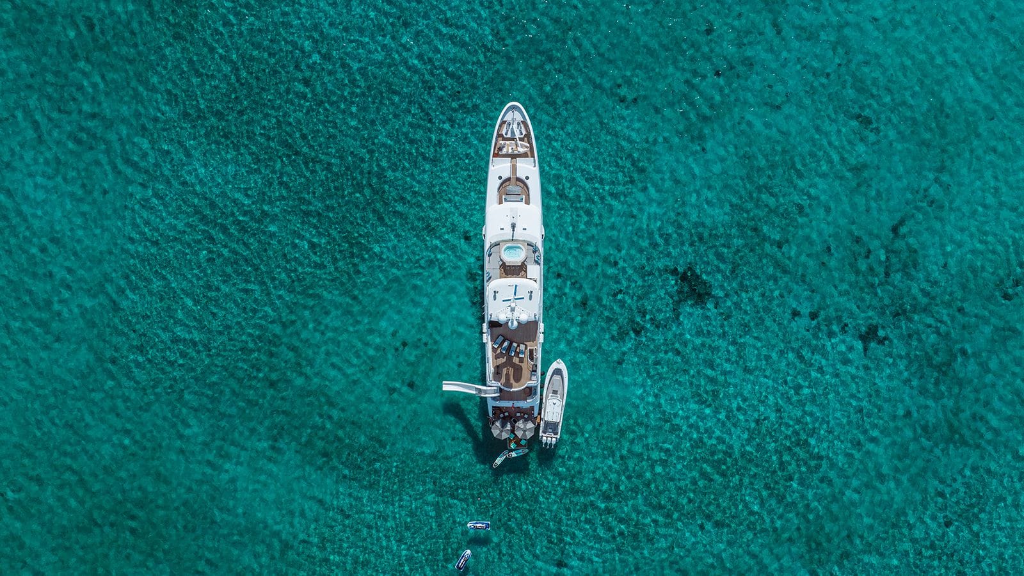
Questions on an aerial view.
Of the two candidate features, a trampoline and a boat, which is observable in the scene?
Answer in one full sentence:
It is a boat that can be seen here.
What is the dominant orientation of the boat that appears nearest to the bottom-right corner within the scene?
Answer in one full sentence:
I'd say the boat that appears nearest to the bottom-right corner is aligned from top to bottom in the picture.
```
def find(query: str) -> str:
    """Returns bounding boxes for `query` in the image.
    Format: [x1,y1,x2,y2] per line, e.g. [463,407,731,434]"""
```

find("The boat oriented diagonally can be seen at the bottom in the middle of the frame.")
[454,552,469,572]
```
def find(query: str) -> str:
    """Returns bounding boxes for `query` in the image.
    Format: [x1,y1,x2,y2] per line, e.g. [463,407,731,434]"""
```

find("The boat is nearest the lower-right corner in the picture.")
[538,360,568,451]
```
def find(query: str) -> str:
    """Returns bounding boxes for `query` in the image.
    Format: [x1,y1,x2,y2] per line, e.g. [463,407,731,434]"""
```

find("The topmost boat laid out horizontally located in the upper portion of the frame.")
[496,140,529,153]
